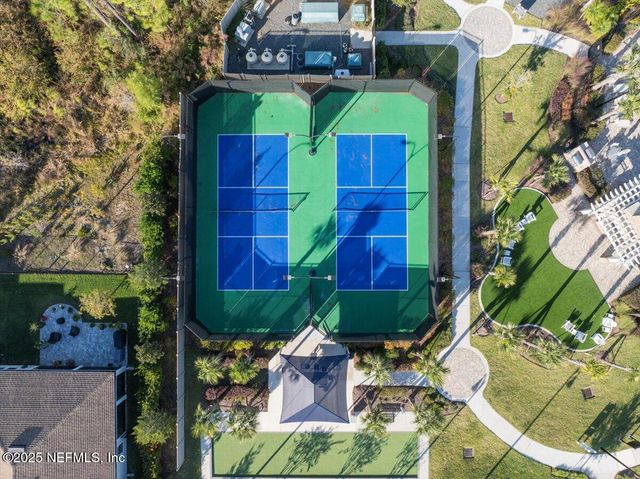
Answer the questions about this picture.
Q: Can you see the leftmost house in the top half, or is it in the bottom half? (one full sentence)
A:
The bottom half of the photo is where the leftmost house is.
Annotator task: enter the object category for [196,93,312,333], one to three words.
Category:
sports court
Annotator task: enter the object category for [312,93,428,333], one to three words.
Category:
sports court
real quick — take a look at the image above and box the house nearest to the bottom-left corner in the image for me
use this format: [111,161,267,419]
[0,361,129,479]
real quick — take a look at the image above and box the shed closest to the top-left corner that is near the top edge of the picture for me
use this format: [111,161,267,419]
[301,2,338,26]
